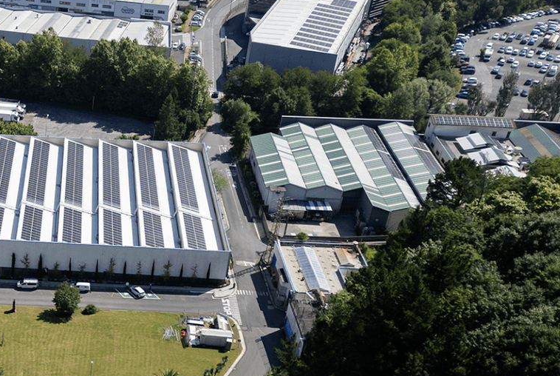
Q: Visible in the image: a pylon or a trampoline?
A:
pylon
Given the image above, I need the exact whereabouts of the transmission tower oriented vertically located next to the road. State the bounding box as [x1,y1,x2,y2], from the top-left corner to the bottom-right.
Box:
[261,184,291,267]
